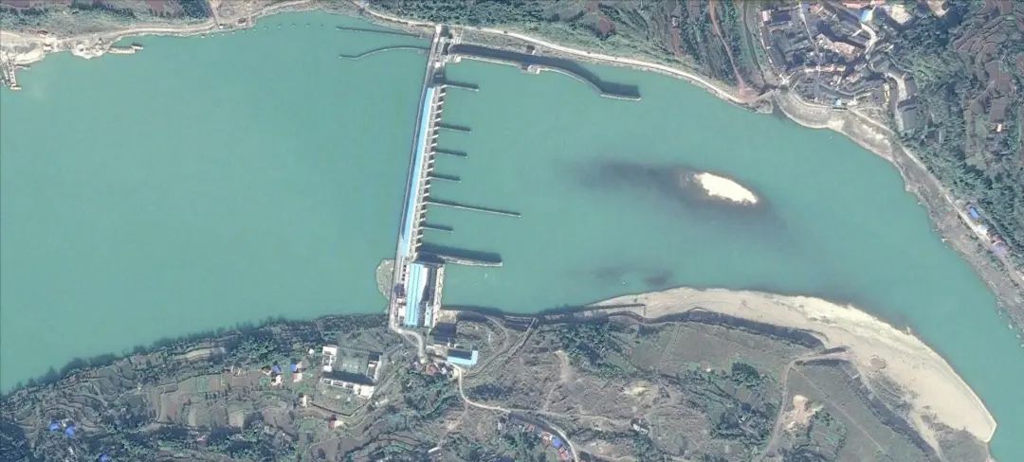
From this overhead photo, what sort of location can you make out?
port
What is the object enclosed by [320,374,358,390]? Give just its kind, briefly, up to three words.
building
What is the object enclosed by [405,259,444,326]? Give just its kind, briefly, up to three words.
building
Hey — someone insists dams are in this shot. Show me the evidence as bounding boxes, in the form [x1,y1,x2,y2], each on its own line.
[389,16,521,327]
